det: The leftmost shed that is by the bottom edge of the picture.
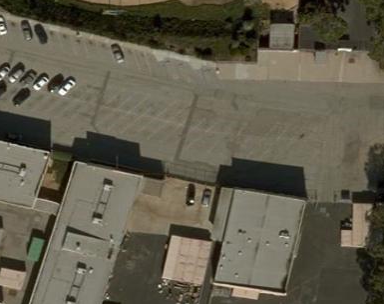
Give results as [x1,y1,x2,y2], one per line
[0,268,27,289]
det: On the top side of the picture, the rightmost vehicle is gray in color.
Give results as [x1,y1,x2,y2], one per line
[110,43,125,63]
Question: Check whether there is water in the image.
No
